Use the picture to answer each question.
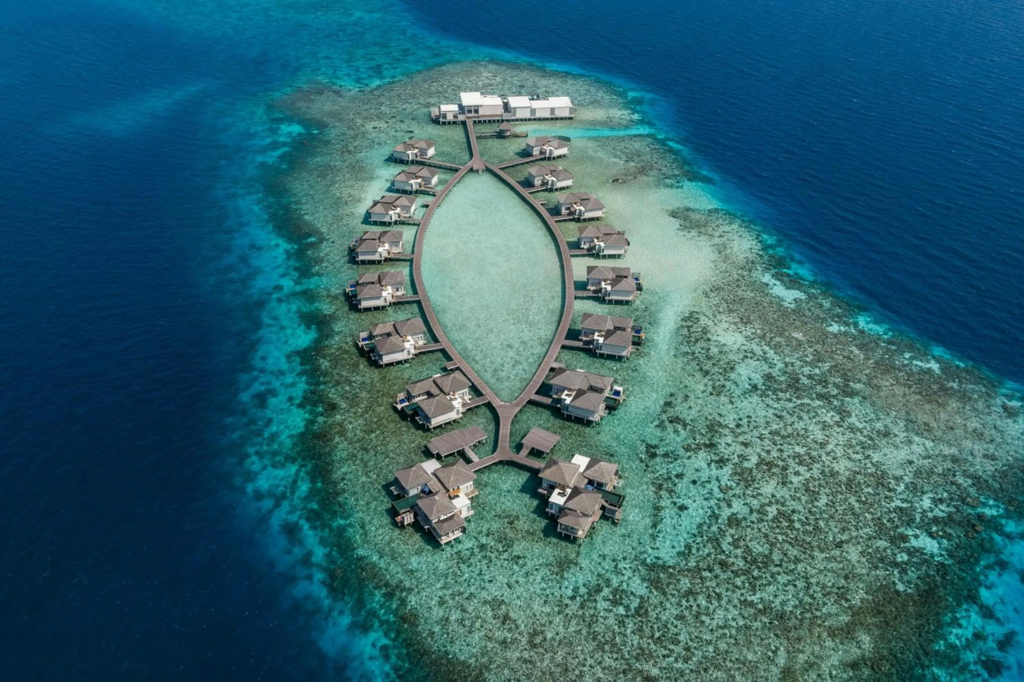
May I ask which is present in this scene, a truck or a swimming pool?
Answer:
swimming pool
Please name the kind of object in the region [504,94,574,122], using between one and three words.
building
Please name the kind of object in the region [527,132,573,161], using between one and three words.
house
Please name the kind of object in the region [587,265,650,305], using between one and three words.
house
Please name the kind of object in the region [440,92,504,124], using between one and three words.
building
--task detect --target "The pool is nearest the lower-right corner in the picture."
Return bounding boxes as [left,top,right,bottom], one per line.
[595,487,624,509]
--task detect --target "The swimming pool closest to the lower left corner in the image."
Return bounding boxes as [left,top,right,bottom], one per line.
[393,494,422,519]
